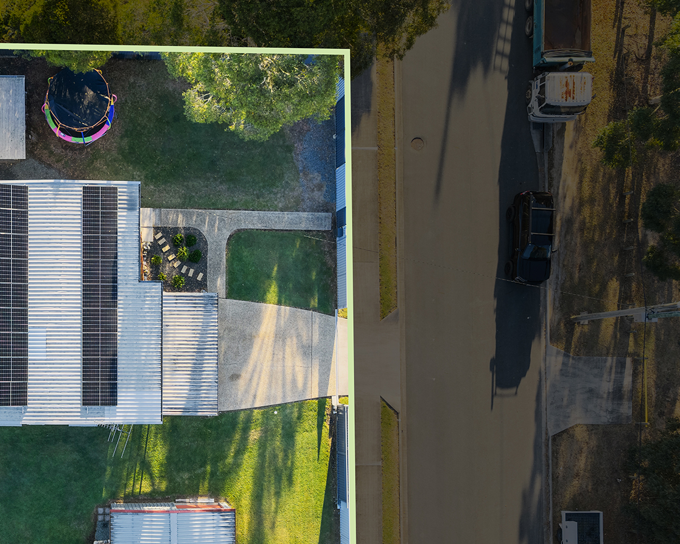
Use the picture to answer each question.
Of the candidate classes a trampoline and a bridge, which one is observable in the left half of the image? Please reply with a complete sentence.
The one visible in the left half of the image is a trampoline.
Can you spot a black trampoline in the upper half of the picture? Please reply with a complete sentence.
Yes, the scene does show a black trampoline in the upper half of the picture.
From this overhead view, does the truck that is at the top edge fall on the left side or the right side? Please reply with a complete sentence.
You can find the truck that is at the top edge on the right side of the picture.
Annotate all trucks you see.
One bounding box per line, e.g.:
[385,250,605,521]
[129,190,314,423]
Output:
[512,0,594,122]
[553,510,602,544]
